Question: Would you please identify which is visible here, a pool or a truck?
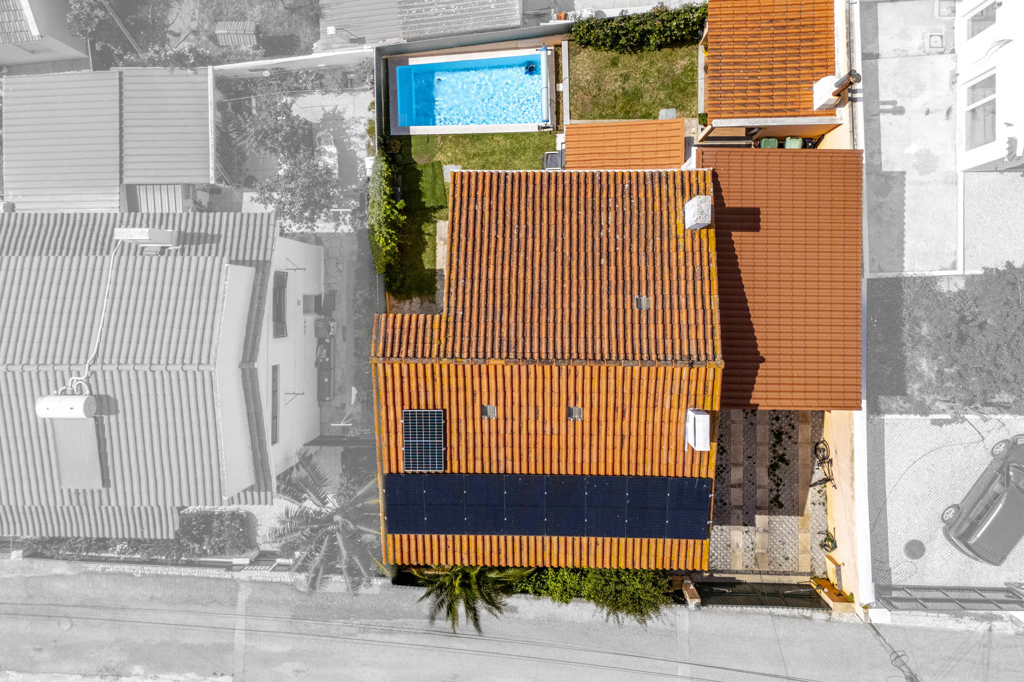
pool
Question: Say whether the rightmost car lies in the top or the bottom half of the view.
bottom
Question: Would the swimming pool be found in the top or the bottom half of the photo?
top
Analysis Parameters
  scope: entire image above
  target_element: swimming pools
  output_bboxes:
[389,44,556,135]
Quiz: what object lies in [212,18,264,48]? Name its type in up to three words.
building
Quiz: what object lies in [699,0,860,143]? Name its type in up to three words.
shed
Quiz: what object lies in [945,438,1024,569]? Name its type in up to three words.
car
